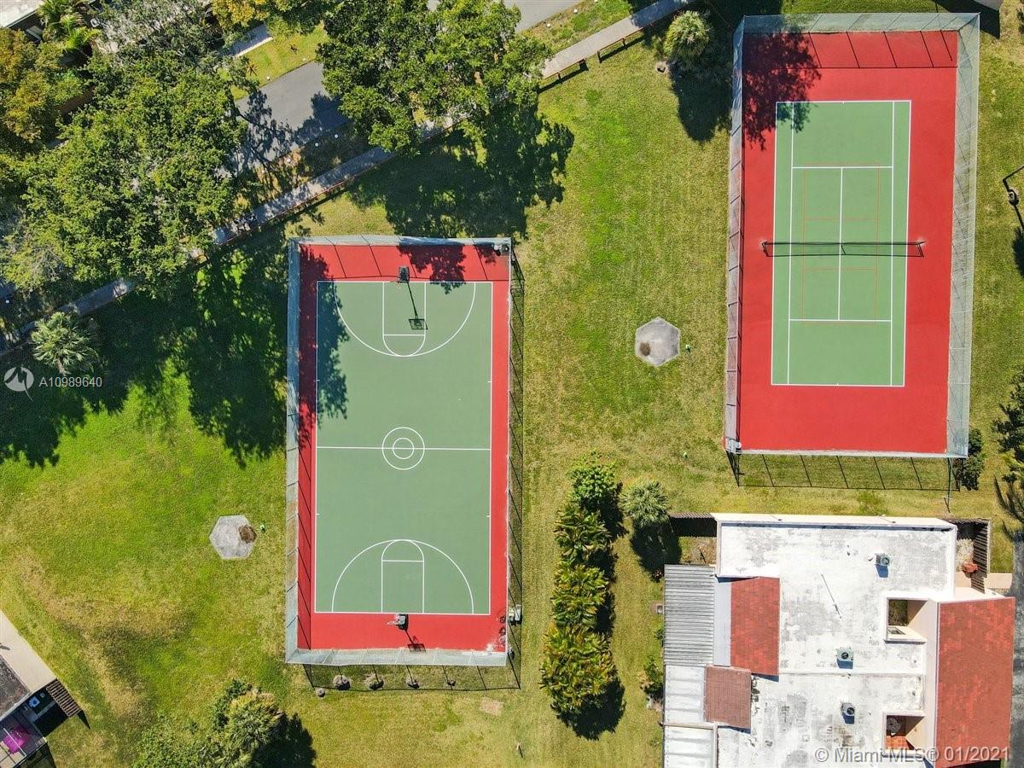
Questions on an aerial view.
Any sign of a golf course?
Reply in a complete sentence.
No, no golf course is visible in the scene.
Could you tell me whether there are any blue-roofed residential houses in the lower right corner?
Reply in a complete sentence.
No, I see no blue-roofed residential house in the lower right corner.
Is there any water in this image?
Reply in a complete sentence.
No, there is no water in the image.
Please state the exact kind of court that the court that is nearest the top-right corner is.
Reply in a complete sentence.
Looking closely, the court that is nearest the top-right corner is a tennis court.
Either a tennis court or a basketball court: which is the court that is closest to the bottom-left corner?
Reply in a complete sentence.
It looks like the court that is closest to the bottom-left corner is a basketball court.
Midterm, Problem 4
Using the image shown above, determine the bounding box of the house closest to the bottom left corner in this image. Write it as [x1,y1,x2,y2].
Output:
[0,611,56,728]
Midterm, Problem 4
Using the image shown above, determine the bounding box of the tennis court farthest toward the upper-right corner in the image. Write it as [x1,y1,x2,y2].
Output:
[724,29,960,453]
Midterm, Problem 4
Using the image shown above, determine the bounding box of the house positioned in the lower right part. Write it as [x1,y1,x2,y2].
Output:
[660,514,1016,768]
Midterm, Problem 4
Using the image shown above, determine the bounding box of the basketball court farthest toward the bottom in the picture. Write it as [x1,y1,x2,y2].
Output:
[295,243,511,654]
